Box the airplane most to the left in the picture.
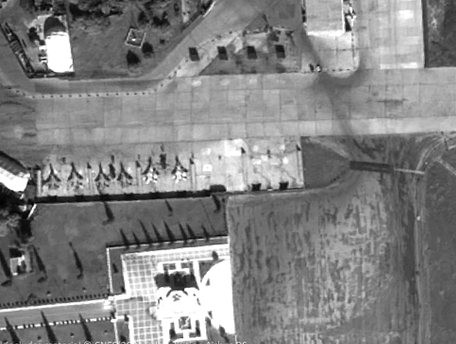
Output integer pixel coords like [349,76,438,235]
[46,171,60,195]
